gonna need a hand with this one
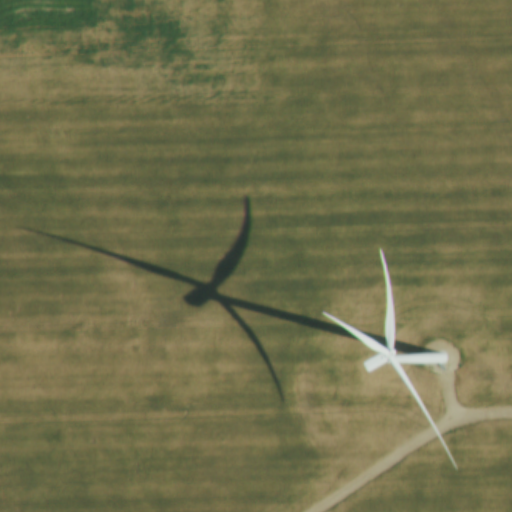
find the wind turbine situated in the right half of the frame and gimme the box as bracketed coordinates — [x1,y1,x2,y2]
[323,246,457,466]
